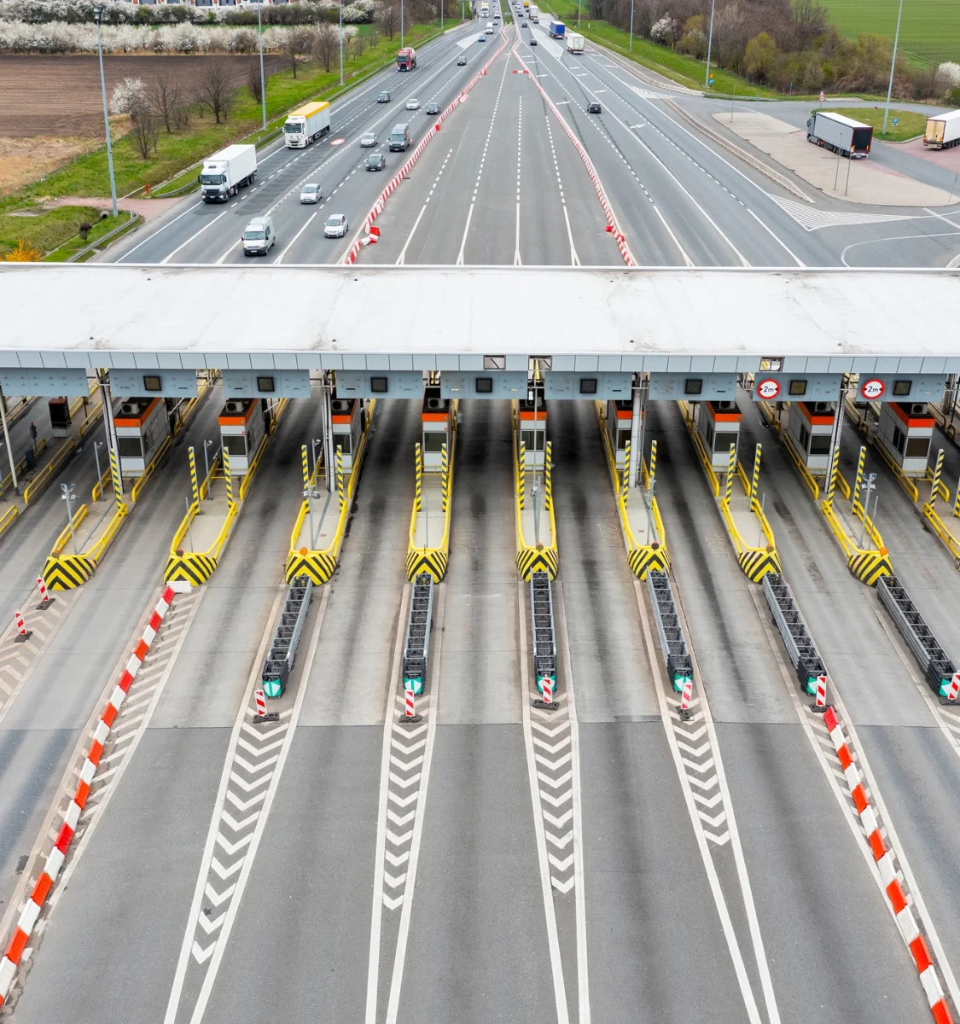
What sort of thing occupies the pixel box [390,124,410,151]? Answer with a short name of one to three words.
vehicle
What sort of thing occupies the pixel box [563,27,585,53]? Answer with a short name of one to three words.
truck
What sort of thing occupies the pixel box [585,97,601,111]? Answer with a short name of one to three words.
car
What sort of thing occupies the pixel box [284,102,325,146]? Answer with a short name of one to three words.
truck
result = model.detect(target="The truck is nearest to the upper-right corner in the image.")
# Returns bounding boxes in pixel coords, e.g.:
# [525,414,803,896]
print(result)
[925,105,960,148]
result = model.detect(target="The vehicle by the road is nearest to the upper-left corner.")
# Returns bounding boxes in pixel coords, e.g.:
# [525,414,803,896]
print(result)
[198,148,248,200]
